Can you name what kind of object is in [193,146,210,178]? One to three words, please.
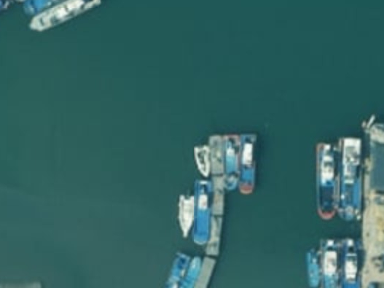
boat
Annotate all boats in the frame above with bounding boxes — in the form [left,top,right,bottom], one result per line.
[319,242,341,288]
[160,250,189,288]
[315,143,337,220]
[24,0,60,13]
[303,250,319,287]
[224,134,241,191]
[194,179,214,244]
[240,134,258,195]
[181,256,201,288]
[336,139,361,221]
[177,192,194,238]
[31,0,105,30]
[340,242,364,288]
[193,146,210,178]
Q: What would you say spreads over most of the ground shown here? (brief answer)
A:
water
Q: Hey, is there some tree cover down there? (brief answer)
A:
No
